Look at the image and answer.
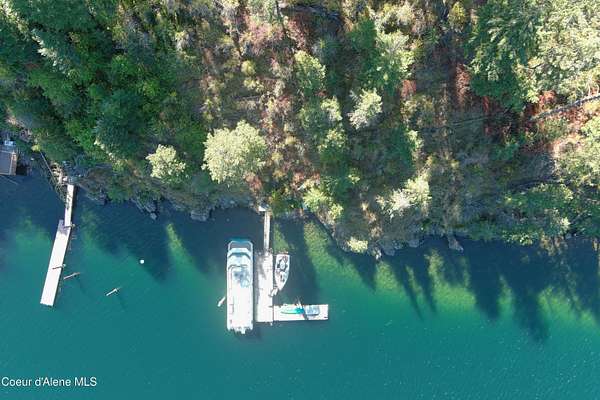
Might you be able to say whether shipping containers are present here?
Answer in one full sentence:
No, there's no shipping container here.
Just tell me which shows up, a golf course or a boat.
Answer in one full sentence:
There is a boat in the scene.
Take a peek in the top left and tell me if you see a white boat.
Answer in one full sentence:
No, I see no white boat in the top left.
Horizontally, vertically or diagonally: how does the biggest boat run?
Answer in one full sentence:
From this overhead view, the biggest boat appears to run vertically.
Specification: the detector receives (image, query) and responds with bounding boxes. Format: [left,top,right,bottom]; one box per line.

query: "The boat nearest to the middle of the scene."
[275,248,291,292]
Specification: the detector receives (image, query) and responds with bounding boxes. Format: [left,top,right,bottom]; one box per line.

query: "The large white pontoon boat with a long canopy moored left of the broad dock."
[227,238,254,338]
